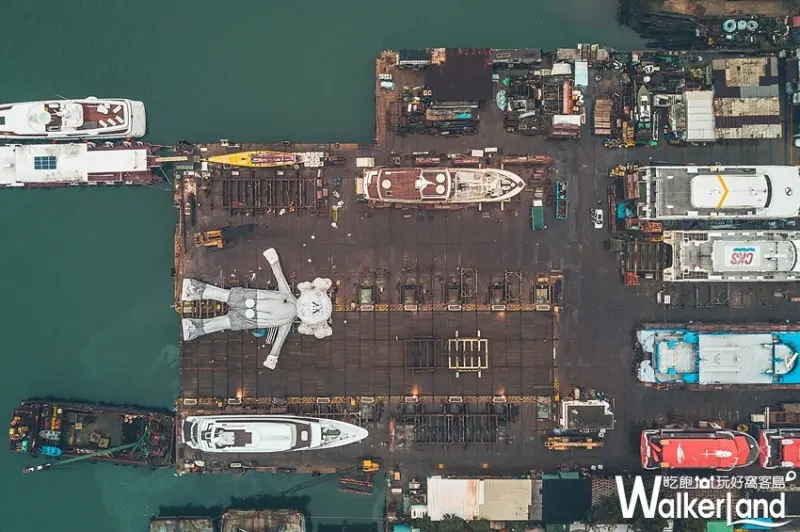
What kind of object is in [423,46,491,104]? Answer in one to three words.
building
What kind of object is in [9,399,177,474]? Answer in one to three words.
ship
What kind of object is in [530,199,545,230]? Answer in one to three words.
vehicle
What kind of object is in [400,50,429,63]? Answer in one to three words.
shed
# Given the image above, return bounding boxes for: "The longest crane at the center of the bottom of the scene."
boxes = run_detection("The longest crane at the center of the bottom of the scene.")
[284,458,381,496]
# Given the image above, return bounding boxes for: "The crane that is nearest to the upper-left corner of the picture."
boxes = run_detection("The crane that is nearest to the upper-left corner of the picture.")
[194,224,262,248]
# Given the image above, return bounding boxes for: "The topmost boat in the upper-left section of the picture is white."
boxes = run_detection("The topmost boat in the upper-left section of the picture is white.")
[0,94,149,139]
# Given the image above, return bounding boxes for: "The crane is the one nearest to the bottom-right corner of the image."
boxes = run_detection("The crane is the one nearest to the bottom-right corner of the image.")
[545,437,604,449]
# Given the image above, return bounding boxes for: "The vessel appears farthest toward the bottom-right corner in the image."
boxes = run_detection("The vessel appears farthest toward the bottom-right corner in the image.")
[754,429,800,470]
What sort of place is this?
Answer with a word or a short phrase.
port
